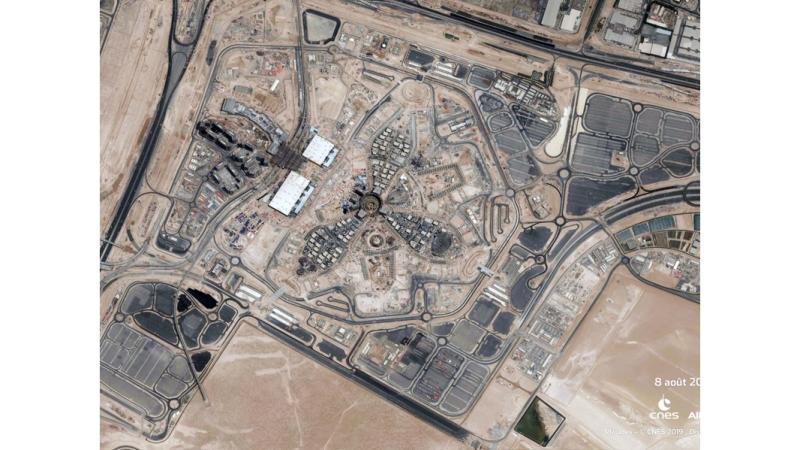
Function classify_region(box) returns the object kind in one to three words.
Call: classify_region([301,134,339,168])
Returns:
building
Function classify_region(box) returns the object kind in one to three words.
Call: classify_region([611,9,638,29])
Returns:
building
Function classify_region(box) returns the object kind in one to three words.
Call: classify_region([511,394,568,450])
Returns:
pond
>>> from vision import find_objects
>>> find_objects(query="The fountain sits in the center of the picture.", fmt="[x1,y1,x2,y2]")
[368,233,385,249]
